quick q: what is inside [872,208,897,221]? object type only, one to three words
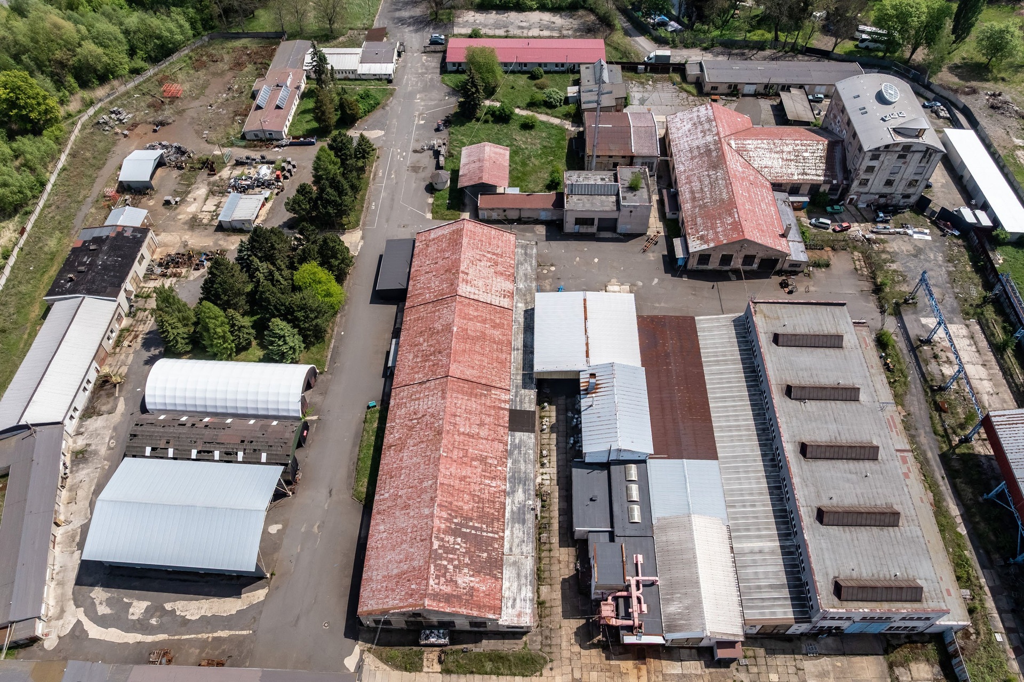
vehicle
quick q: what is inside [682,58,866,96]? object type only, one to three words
shed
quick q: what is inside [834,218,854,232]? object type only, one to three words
car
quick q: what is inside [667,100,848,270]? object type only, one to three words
building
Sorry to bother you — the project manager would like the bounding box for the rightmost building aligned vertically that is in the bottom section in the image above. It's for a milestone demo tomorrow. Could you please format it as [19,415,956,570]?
[967,411,1024,551]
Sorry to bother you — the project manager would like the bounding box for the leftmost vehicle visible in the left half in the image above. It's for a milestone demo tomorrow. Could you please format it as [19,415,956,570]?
[204,160,217,176]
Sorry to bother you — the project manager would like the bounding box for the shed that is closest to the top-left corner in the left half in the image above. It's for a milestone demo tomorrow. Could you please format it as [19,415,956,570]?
[118,151,168,192]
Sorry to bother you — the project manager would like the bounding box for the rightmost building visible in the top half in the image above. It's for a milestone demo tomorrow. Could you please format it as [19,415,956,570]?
[938,127,1024,248]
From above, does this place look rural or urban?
urban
